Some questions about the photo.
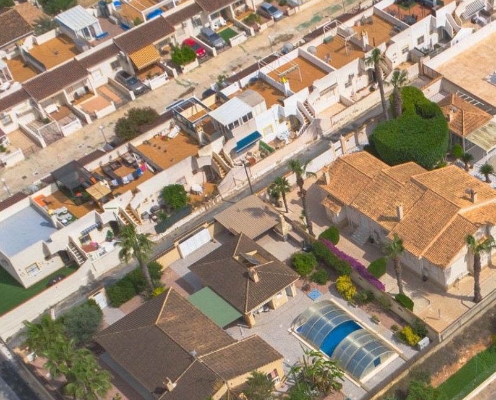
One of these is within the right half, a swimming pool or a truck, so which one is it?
swimming pool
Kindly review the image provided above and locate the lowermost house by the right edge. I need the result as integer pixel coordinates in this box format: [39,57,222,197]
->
[313,150,496,289]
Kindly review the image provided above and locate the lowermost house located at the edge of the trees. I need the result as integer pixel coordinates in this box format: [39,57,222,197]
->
[85,289,284,400]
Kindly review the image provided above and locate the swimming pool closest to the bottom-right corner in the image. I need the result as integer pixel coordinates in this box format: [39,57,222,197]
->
[289,299,401,384]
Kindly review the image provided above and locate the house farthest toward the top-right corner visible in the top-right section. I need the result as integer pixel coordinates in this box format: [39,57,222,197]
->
[374,0,462,55]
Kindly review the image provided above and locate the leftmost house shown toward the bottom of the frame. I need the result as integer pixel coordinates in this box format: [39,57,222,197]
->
[0,200,71,288]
